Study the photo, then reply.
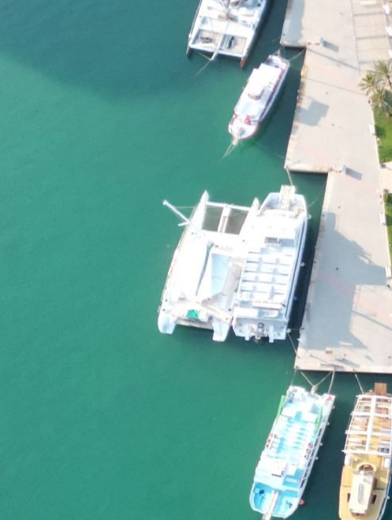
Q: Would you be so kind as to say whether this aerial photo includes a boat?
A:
Yes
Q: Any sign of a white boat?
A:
Yes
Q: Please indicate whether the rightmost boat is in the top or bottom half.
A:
bottom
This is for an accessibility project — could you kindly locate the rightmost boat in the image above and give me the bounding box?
[337,375,392,520]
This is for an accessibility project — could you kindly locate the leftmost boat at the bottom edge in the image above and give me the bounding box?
[256,371,334,520]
